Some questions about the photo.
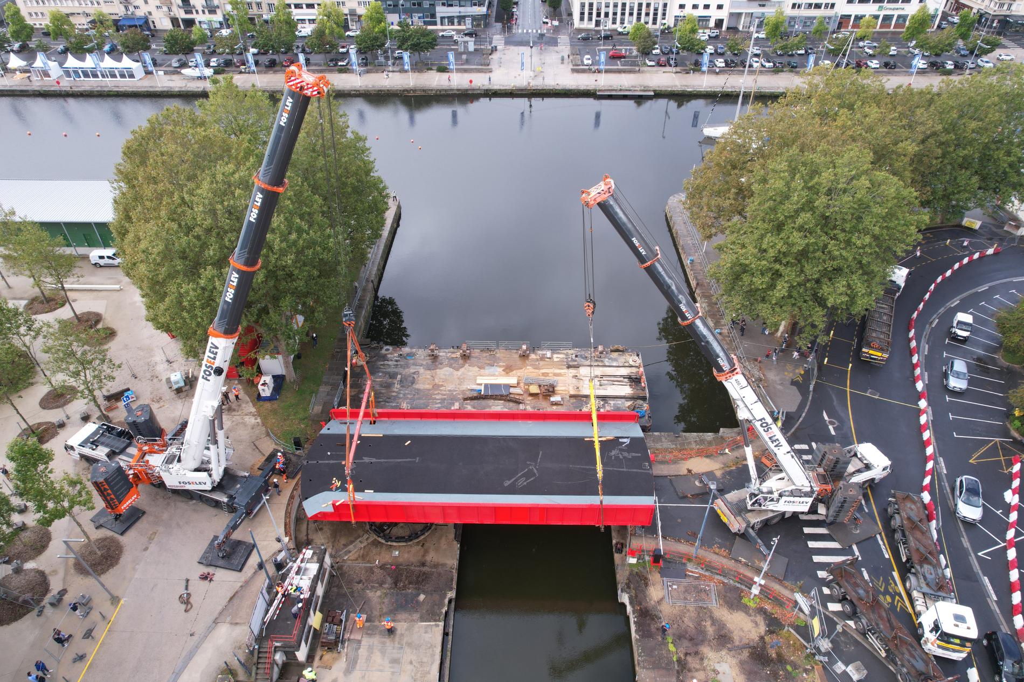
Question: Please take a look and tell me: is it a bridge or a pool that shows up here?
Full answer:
The one in the frame is a bridge.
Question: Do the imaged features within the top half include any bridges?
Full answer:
No, I see no bridge within the top half.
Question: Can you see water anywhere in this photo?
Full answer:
Yes, there is water in the image.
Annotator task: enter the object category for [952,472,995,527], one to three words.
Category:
car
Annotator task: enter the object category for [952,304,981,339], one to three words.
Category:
car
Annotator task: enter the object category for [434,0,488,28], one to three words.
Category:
building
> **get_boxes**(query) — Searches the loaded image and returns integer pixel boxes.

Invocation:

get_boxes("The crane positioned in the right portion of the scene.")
[578,178,905,577]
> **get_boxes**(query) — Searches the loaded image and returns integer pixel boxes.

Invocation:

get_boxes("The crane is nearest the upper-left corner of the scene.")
[63,60,358,555]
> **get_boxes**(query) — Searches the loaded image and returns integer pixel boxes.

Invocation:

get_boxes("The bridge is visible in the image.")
[301,410,655,530]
